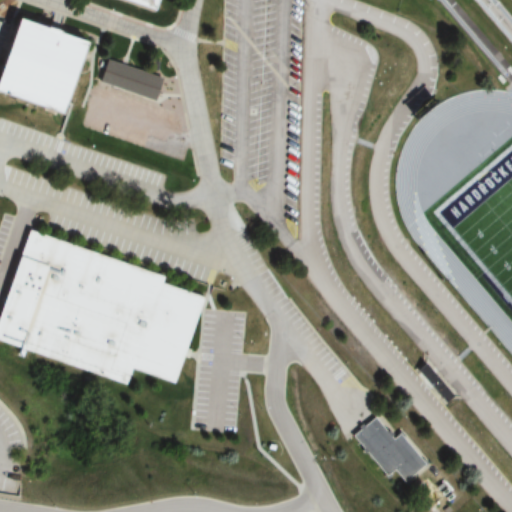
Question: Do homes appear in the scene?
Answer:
Yes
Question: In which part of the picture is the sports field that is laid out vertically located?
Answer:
right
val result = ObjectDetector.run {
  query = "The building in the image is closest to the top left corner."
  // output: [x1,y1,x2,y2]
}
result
[0,17,90,116]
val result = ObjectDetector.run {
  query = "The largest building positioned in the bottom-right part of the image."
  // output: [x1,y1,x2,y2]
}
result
[355,417,429,480]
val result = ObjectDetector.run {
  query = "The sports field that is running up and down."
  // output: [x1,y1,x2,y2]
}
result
[422,136,512,322]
